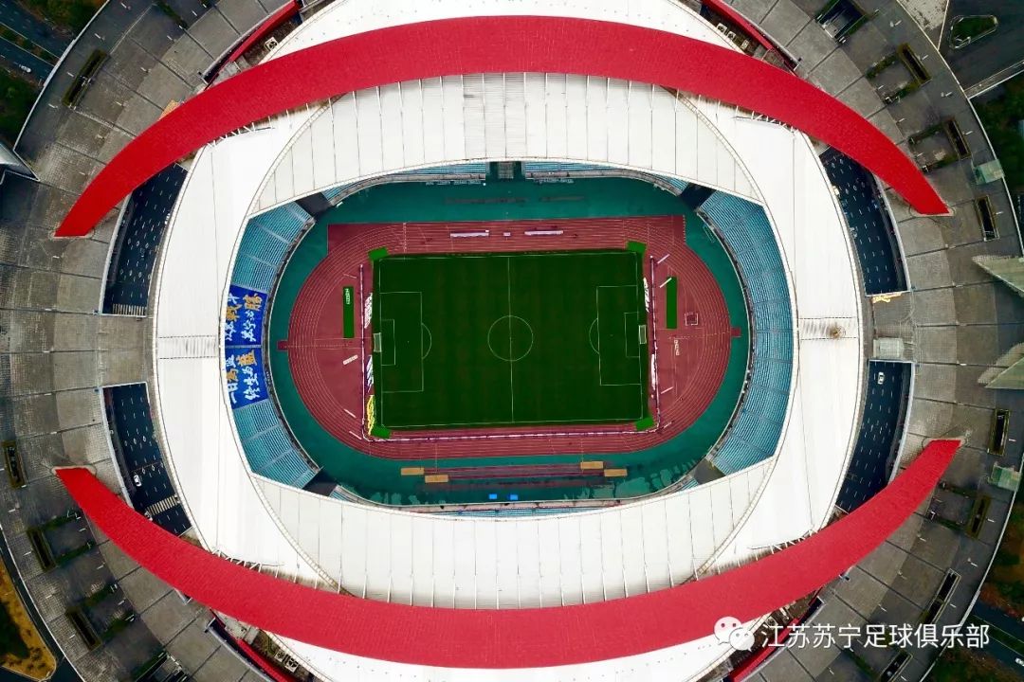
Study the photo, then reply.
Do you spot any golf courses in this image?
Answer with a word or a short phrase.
No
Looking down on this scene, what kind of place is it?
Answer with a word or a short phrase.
sports ground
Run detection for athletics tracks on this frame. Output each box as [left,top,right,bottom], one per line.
[278,215,740,464]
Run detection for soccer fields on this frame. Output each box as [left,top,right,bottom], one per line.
[373,248,651,430]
